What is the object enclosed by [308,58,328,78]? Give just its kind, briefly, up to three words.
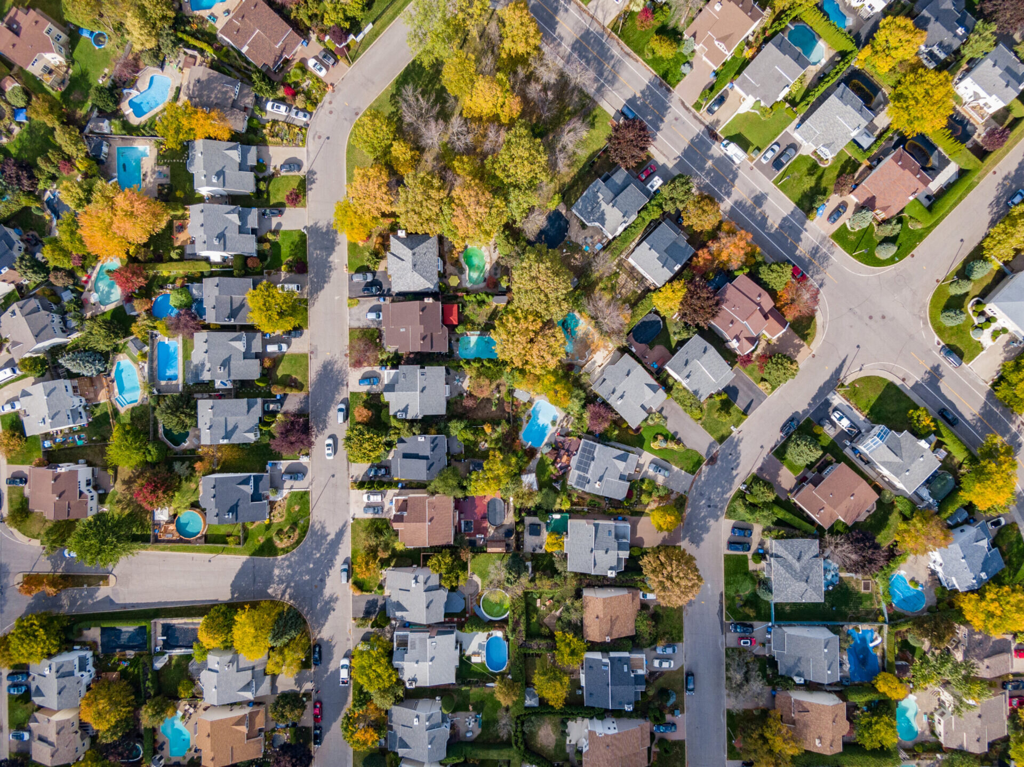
car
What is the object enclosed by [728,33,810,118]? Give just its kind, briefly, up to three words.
house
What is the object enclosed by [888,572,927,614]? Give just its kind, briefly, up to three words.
swimming pool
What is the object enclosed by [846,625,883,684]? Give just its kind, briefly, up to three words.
swimming pool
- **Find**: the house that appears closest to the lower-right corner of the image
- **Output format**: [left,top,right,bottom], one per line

[922,693,1007,754]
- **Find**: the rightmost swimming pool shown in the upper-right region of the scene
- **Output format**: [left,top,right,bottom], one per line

[947,110,979,145]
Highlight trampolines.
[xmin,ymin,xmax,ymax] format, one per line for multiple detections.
[92,32,108,48]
